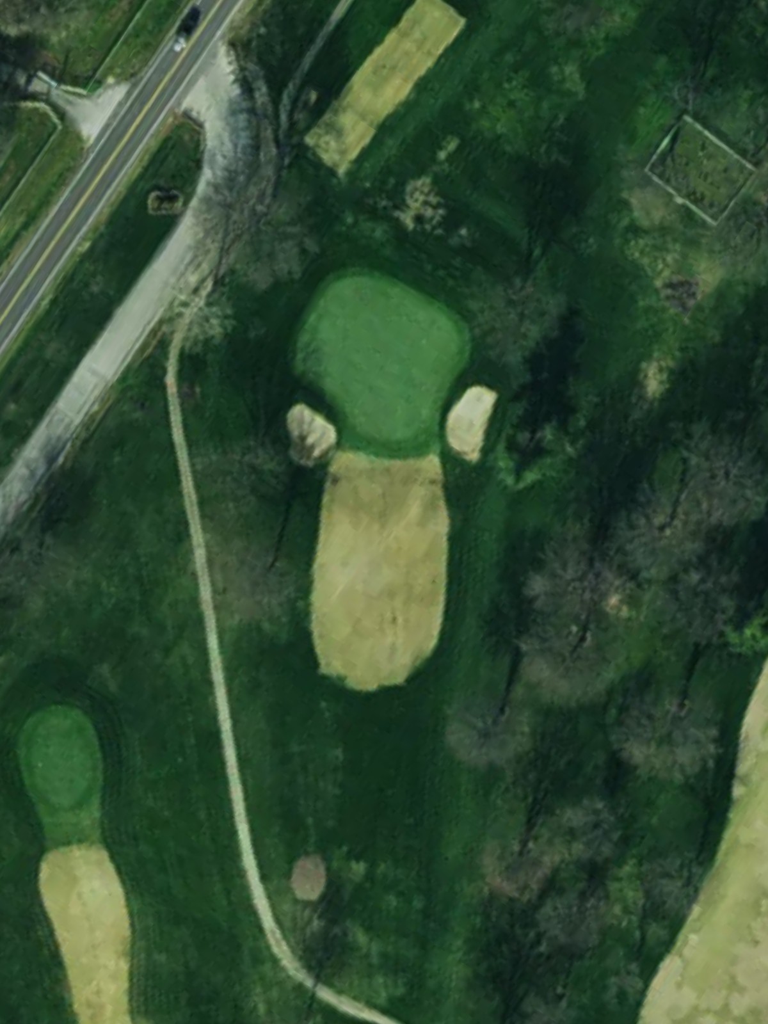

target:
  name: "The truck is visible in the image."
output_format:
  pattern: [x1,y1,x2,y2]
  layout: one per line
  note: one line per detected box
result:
[171,9,202,48]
